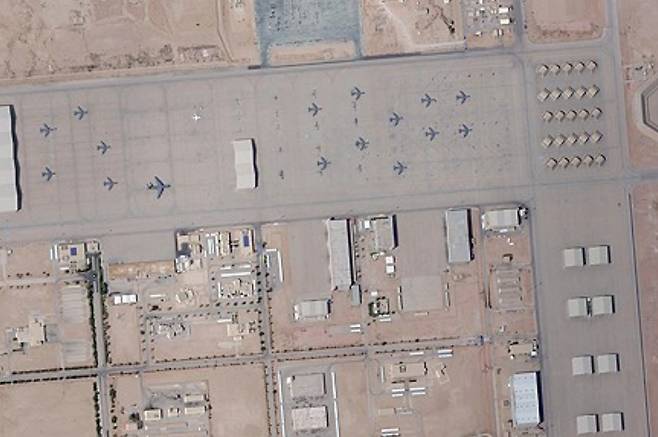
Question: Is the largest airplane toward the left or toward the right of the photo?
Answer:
left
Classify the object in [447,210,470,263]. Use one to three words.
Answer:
hangar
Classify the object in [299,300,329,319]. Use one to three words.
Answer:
hangar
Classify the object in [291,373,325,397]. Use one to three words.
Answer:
building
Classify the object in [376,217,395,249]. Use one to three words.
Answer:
building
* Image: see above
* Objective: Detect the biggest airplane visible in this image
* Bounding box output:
[147,176,171,198]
